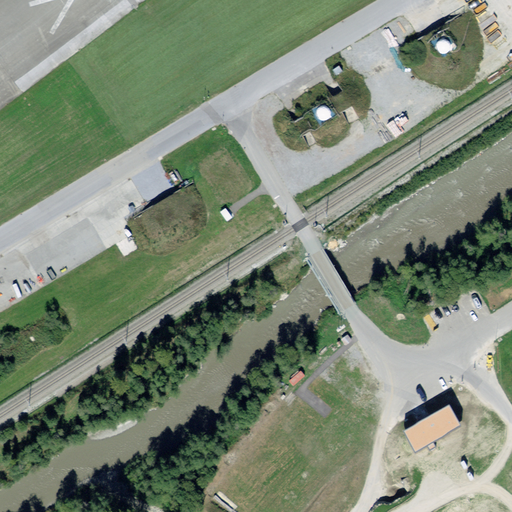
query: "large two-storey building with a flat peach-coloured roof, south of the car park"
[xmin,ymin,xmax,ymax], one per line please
[405,406,461,451]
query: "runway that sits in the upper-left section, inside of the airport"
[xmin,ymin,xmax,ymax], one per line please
[0,0,123,110]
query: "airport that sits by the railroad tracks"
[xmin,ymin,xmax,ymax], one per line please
[0,0,428,312]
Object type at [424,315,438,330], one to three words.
vehicle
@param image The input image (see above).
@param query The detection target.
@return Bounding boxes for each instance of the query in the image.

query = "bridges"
[304,248,358,316]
